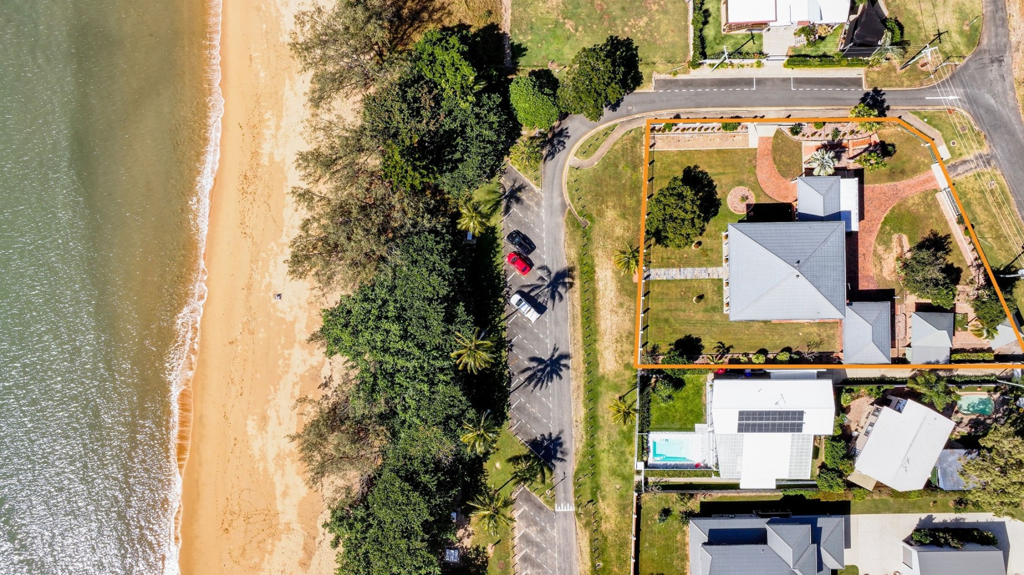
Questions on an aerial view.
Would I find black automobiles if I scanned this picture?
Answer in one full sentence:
Yes, a black automobile can be made out from above.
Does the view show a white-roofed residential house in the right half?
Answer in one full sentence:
Yes, a white-roofed residential house shows up in the right half.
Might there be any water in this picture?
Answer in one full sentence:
Yes, there's water in this view.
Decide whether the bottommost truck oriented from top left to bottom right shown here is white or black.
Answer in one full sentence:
In this view, the bottommost truck oriented from top left to bottom right is white.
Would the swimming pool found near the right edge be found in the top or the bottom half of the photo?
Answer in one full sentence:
The swimming pool found near the right edge sits in the bottom half of the picture.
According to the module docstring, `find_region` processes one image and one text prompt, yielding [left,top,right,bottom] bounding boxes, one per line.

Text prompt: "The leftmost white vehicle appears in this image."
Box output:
[510,292,543,324]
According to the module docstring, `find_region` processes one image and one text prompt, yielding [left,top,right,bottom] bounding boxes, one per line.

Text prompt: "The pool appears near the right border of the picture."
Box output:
[950,387,1002,423]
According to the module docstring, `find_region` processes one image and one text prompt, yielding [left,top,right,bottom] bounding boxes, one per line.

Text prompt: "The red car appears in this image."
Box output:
[505,251,532,276]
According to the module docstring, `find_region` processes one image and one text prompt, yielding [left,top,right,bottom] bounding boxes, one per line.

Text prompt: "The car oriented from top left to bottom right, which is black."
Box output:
[507,228,536,257]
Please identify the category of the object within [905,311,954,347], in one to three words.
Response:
shed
